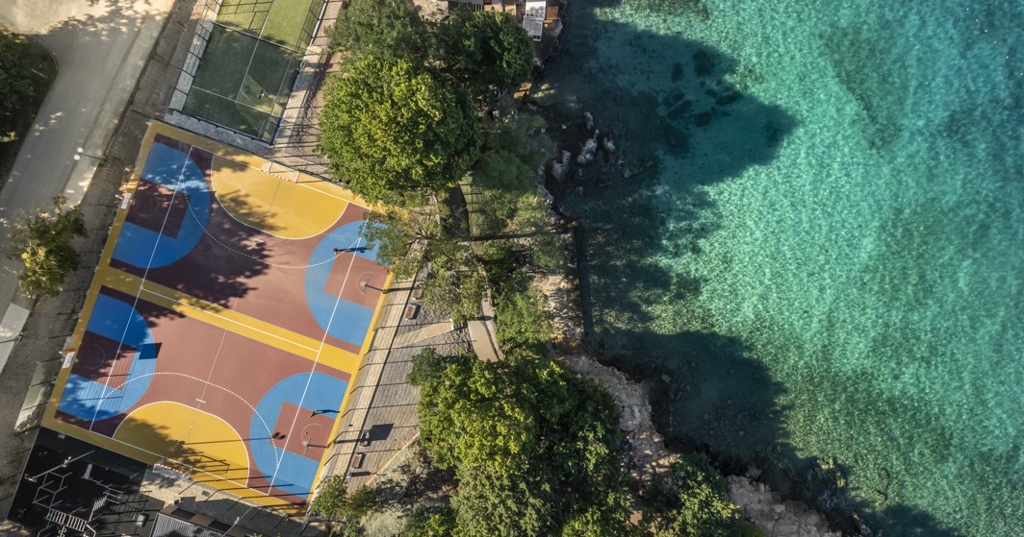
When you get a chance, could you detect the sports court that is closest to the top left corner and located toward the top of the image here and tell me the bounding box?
[162,0,322,145]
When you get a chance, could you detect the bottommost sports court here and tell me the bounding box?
[41,119,417,522]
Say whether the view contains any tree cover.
Yes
